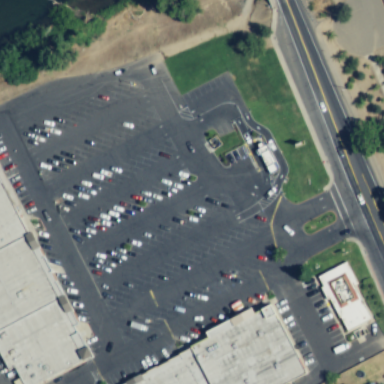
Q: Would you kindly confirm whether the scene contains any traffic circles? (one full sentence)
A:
No, I find no traffic circle anywhere in the image.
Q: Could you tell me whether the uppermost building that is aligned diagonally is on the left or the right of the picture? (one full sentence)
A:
You can find the uppermost building that is aligned diagonally on the right side of the picture.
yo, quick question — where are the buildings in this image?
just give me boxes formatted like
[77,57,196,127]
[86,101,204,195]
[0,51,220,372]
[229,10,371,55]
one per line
[122,302,306,384]
[258,142,280,174]
[318,262,373,342]
[0,184,92,384]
